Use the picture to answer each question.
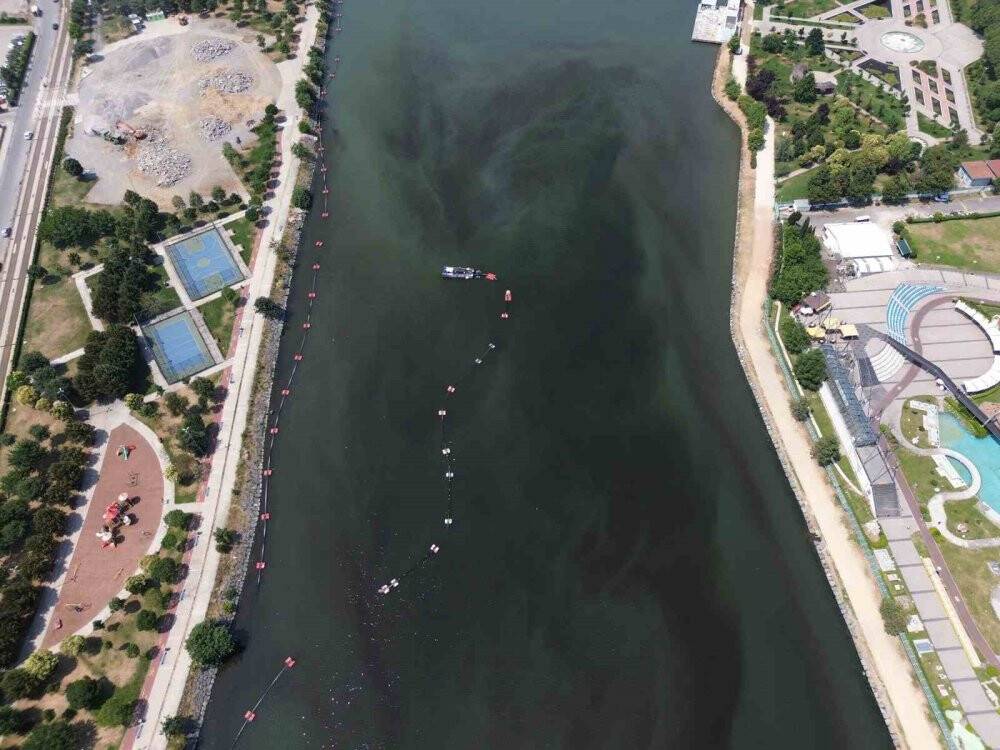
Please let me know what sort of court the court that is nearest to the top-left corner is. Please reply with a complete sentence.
The court that is nearest to the top-left corner can be classified as a basketball court.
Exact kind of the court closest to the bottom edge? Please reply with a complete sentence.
The court closest to the bottom edge appears to be a tennis court.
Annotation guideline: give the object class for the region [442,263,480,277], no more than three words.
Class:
boat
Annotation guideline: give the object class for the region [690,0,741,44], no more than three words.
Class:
pier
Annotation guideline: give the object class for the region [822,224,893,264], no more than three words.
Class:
building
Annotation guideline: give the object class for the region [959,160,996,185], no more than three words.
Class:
house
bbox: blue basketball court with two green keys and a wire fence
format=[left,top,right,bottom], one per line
[160,220,244,303]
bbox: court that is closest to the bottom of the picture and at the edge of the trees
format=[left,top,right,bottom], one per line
[137,302,216,385]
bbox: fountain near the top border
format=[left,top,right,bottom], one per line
[881,30,926,53]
